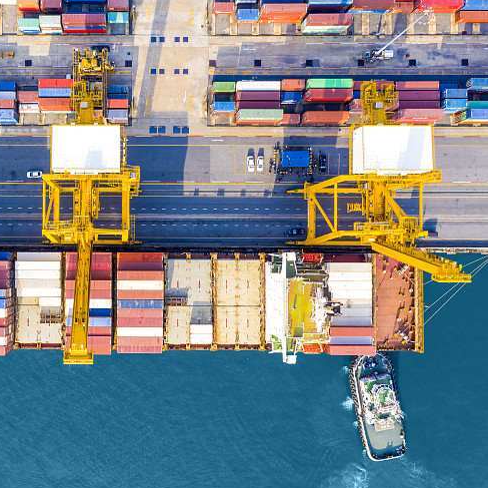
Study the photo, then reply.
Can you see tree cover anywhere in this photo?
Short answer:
No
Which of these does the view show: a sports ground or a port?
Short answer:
port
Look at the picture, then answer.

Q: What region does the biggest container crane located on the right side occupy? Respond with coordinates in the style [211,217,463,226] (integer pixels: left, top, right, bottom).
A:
[280,76,472,282]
